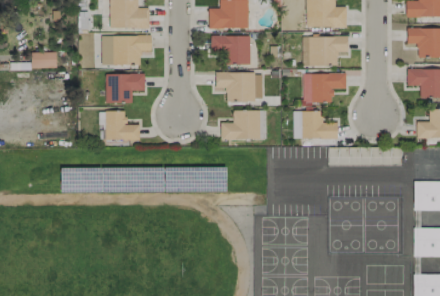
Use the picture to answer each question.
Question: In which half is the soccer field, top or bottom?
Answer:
bottom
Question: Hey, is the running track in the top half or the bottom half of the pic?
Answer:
bottom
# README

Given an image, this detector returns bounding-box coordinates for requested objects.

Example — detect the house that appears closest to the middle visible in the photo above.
[220,110,266,140]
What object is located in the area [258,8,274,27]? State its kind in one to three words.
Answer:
swimming pool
